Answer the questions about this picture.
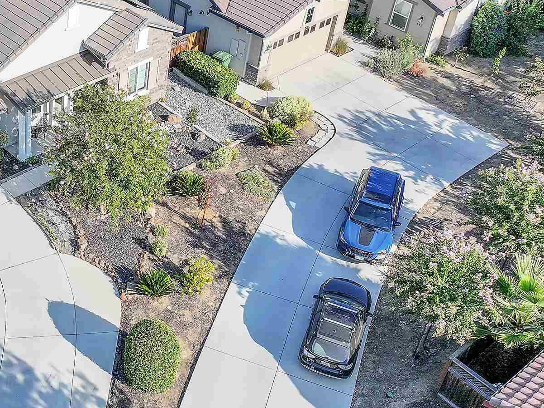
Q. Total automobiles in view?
two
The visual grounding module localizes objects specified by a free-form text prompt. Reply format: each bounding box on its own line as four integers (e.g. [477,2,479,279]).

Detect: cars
[336,166,396,259]
[303,267,379,375]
